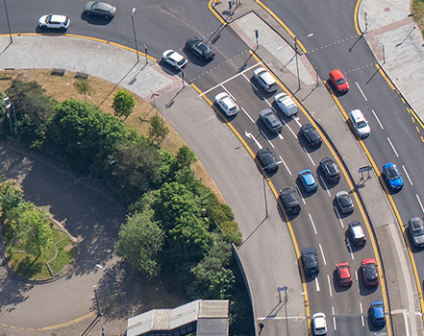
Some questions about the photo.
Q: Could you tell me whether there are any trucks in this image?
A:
No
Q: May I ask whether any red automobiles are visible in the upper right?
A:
Yes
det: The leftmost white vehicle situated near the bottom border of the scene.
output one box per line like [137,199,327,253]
[310,312,327,336]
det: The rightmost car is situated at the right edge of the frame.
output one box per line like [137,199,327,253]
[408,217,424,247]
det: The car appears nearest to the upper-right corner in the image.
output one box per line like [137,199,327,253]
[328,68,349,94]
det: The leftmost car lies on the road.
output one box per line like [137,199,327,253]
[37,13,70,31]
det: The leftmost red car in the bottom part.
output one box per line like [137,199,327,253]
[335,263,352,288]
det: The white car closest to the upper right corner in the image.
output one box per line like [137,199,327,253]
[349,109,371,137]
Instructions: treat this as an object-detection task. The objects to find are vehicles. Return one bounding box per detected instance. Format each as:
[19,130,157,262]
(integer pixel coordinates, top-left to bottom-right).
[382,163,403,190]
[184,39,216,62]
[348,223,365,247]
[349,109,371,137]
[299,122,323,149]
[361,259,378,287]
[251,67,279,93]
[256,147,279,176]
[368,304,384,328]
[336,192,352,215]
[213,91,240,119]
[310,312,327,336]
[37,13,70,31]
[259,109,284,136]
[297,170,317,195]
[335,263,352,288]
[408,217,424,247]
[328,68,349,94]
[82,1,118,20]
[300,249,319,276]
[274,91,300,119]
[160,51,187,70]
[278,186,300,216]
[319,157,341,186]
